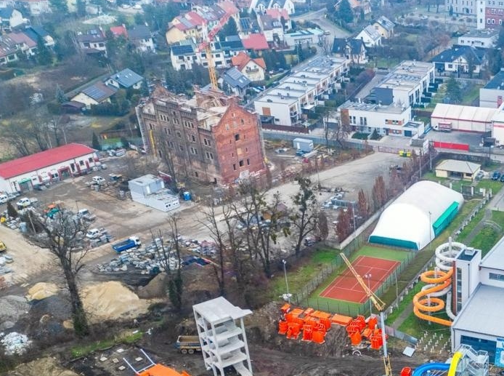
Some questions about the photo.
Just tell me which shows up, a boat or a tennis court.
tennis court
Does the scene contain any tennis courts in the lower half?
Yes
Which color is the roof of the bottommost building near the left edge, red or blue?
red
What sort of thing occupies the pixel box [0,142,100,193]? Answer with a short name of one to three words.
building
